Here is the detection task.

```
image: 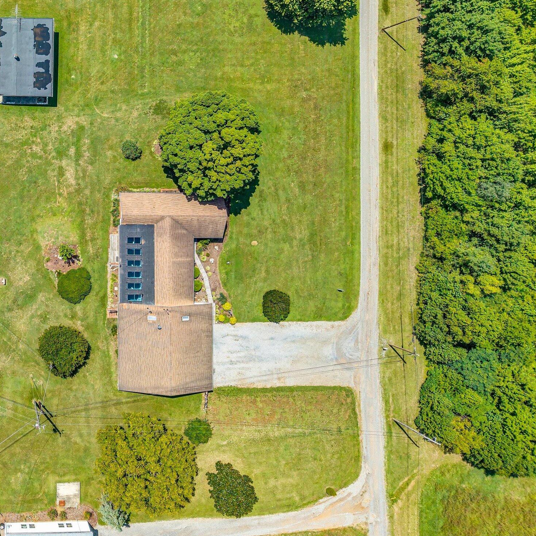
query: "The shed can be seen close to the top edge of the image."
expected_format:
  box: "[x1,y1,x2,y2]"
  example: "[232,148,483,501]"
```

[0,17,54,104]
